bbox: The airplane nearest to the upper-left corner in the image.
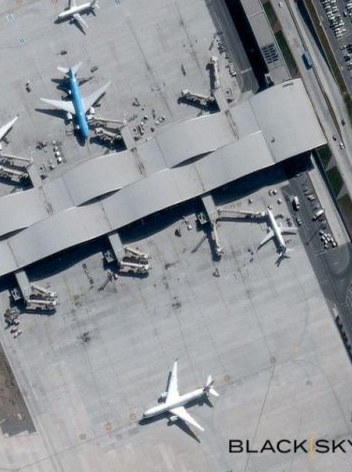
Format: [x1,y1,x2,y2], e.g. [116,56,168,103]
[58,0,99,27]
